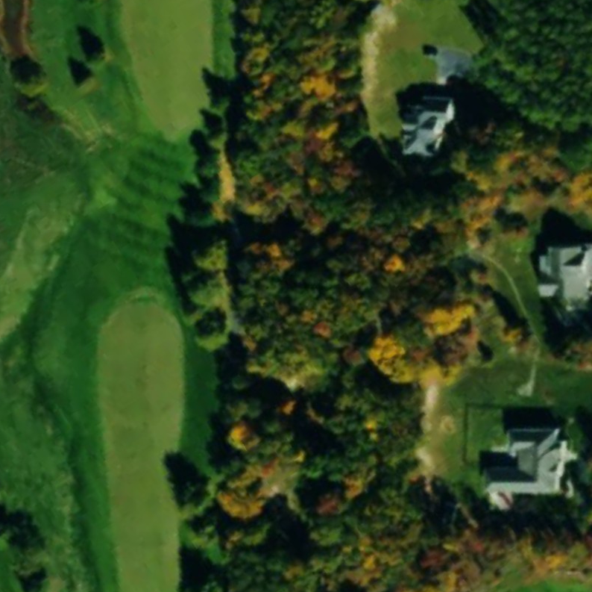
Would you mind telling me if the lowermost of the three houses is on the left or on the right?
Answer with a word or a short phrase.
right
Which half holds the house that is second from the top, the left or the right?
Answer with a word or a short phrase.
right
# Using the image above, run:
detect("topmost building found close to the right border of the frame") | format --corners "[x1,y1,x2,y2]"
[540,248,592,303]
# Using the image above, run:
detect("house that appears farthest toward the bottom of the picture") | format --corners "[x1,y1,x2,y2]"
[486,431,575,508]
